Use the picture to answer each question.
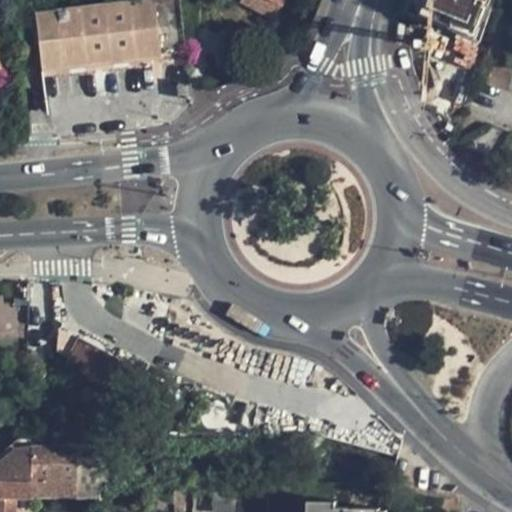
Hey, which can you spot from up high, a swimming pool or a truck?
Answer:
truck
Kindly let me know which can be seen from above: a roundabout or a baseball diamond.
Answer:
roundabout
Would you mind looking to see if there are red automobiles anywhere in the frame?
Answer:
Yes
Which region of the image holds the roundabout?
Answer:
center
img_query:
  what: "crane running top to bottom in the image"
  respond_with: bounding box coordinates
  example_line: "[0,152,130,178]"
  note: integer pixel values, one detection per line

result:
[419,0,448,104]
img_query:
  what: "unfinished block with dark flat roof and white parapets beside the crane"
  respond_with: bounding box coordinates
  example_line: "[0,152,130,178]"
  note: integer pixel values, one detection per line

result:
[430,0,492,38]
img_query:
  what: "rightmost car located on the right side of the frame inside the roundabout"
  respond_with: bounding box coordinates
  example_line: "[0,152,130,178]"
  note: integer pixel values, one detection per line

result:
[388,182,408,200]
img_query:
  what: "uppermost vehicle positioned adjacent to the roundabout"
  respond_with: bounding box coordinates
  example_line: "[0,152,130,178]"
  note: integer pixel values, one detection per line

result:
[306,40,328,72]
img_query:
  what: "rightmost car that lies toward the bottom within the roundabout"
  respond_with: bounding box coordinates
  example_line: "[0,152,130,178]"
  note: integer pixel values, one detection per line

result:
[288,314,310,333]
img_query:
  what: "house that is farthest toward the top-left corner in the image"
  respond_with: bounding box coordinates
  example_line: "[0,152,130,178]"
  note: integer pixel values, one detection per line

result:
[35,0,162,74]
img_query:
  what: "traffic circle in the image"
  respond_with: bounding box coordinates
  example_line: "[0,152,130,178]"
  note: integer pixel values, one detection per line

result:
[170,83,426,364]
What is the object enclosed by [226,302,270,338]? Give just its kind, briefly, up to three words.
truck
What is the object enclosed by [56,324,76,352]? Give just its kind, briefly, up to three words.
shed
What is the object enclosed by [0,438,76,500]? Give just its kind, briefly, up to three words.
house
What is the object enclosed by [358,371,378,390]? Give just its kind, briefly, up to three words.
car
